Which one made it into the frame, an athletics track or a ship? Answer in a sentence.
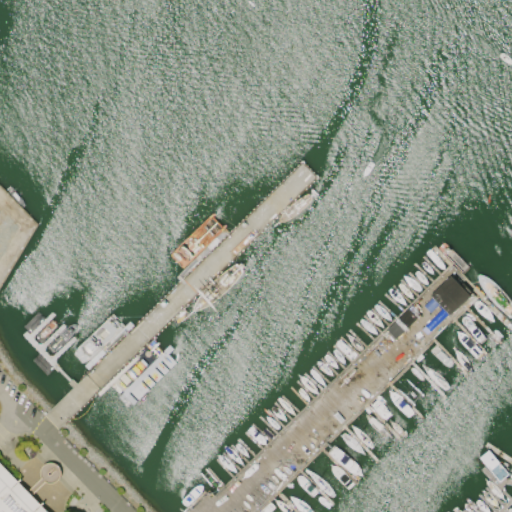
The image shows a ship.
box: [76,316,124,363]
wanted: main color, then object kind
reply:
white ship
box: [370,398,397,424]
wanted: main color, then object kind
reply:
white boat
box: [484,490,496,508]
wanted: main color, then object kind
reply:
white boat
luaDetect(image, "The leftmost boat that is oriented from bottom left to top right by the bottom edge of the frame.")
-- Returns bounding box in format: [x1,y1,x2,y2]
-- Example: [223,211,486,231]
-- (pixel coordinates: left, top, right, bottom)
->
[181,487,204,508]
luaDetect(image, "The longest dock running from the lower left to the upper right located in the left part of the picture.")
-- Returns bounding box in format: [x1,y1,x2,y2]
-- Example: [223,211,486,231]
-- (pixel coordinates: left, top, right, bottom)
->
[46,163,318,428]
